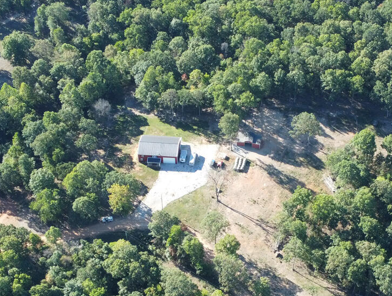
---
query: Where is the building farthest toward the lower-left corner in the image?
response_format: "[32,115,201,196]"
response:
[136,135,182,171]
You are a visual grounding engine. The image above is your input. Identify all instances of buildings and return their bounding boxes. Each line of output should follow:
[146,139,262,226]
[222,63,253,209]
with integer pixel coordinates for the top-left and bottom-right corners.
[136,135,182,171]
[236,130,264,149]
